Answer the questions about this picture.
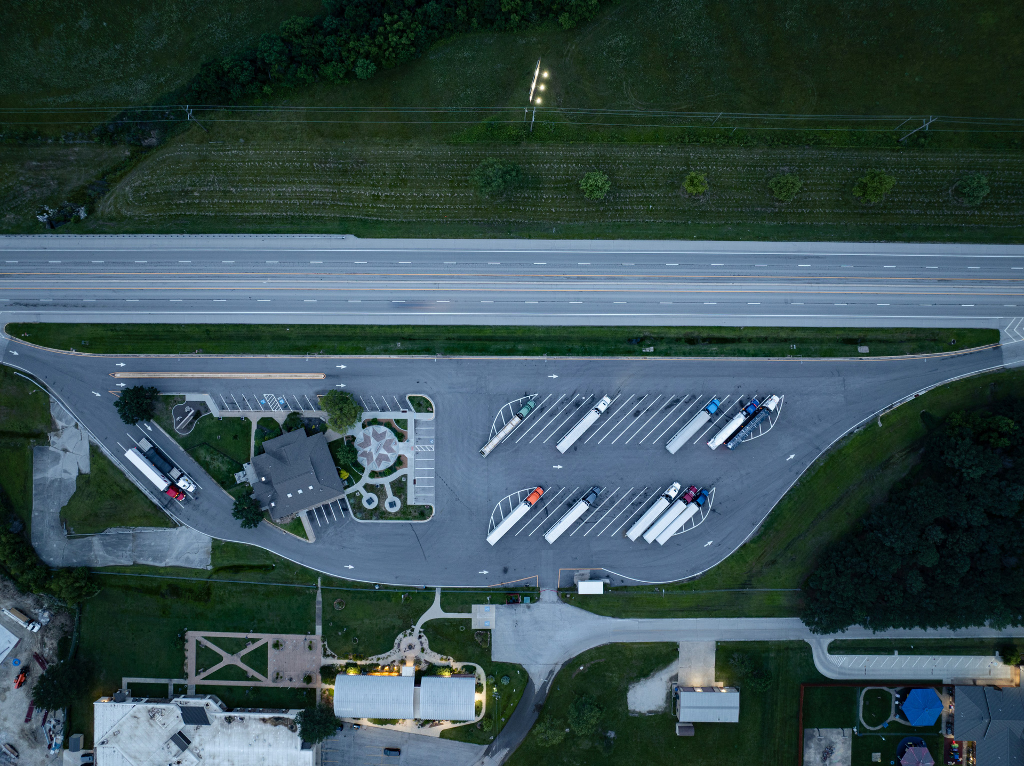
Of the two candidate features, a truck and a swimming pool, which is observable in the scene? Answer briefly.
truck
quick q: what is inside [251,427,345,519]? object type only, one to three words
building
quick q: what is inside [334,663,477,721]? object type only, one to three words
building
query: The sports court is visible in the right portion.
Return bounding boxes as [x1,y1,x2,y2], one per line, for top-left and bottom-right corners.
[803,729,852,766]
